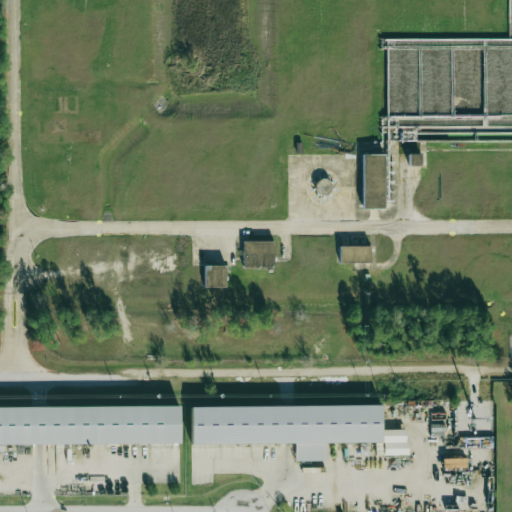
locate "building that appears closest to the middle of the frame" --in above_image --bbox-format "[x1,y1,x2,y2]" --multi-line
[244,242,275,268]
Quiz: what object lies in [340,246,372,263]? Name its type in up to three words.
building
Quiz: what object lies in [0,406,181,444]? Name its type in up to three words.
building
